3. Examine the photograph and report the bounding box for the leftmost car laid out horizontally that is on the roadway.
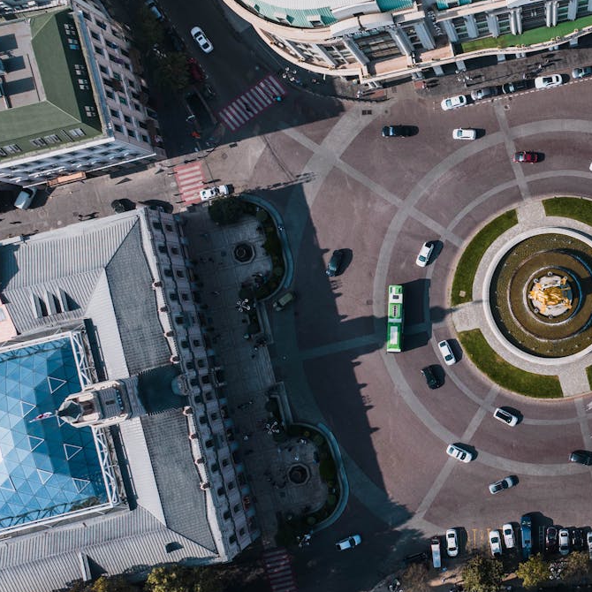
[112,200,136,212]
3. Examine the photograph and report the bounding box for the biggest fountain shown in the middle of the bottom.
[287,464,309,486]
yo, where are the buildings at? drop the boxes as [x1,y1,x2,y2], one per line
[0,6,159,195]
[0,207,258,592]
[215,0,592,86]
